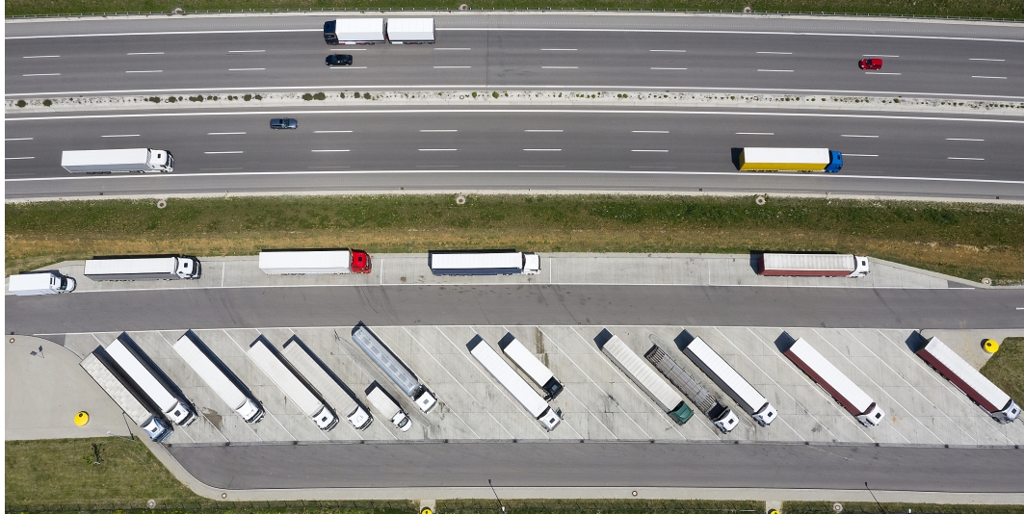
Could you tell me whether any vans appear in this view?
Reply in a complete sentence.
Yes, the photo shows a van.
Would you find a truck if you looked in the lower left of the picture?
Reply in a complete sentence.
Yes, the scene does show a truck in the lower left of the picture.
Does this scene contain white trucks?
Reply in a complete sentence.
Yes, there's a white truck down there.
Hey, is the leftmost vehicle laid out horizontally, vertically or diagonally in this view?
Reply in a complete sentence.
What the image shows is the leftmost vehicle lying horizontally.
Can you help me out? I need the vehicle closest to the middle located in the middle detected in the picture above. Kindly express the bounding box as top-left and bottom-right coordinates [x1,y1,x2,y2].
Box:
[433,252,540,275]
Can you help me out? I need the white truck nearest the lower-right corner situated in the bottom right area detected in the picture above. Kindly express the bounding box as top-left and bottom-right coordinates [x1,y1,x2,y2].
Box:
[916,336,1020,425]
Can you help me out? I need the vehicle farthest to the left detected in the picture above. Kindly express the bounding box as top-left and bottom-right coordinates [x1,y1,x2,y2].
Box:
[9,274,76,295]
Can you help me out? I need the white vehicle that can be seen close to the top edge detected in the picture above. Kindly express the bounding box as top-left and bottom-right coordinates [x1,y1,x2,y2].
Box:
[322,17,435,44]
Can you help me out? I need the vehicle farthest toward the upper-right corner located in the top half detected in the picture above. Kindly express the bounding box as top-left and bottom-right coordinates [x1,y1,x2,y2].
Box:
[857,57,883,71]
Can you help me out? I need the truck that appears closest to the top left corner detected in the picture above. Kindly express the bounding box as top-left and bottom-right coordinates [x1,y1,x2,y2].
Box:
[61,148,174,174]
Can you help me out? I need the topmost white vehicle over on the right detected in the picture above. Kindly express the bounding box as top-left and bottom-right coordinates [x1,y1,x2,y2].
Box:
[738,147,844,172]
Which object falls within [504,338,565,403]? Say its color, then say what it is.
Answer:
white truck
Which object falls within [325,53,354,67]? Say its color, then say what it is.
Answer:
black car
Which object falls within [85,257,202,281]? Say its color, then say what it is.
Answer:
white truck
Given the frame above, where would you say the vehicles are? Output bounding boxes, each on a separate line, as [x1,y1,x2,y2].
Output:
[322,17,435,44]
[106,339,198,429]
[366,386,413,432]
[647,348,740,435]
[354,329,436,411]
[173,335,266,425]
[248,341,341,432]
[857,57,883,71]
[269,117,300,131]
[61,148,174,174]
[259,251,372,274]
[325,53,354,67]
[80,352,172,442]
[433,252,540,275]
[504,338,565,403]
[759,253,869,276]
[9,274,76,295]
[602,335,695,427]
[916,336,1020,425]
[282,341,374,433]
[85,257,202,281]
[683,336,777,427]
[784,338,883,427]
[738,147,844,172]
[471,340,561,433]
